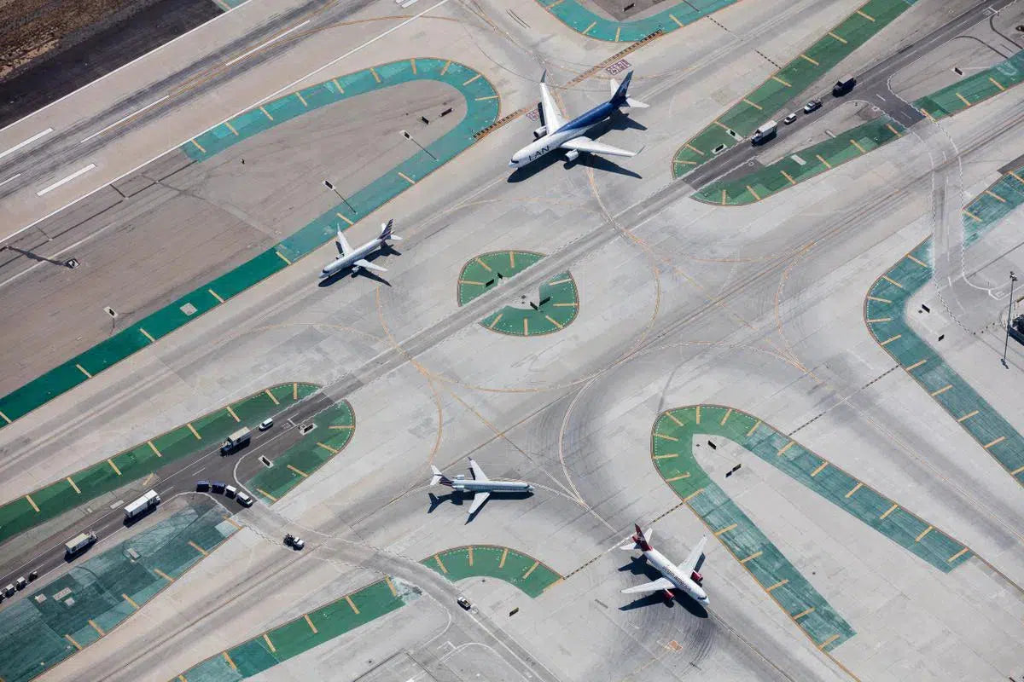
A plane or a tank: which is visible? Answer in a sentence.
Of the two, only a plane appears.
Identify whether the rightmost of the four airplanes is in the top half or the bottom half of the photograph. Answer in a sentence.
The rightmost of the four airplanes sits in the bottom half of the picture.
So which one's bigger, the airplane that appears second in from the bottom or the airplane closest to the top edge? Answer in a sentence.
Compared with the airplane that appears second in from the bottom, the airplane closest to the top edge is the larger one.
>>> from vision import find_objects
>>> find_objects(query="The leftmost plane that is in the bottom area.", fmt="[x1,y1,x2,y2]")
[433,458,534,513]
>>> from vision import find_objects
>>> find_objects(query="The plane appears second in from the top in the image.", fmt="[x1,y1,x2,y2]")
[319,218,400,278]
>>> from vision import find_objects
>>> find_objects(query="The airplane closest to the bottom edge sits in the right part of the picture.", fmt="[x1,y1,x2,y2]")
[619,524,709,604]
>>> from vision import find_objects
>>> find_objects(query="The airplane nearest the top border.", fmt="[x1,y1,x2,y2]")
[509,69,645,167]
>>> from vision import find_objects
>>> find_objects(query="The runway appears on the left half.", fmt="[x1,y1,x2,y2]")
[0,0,446,242]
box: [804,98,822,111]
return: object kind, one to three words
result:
vehicle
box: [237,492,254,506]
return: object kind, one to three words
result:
car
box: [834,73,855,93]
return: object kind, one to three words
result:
vehicle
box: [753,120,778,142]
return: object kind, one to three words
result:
truck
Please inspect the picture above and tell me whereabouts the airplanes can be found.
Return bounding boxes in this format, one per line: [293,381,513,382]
[433,458,534,513]
[619,524,709,604]
[509,69,645,167]
[319,218,400,278]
